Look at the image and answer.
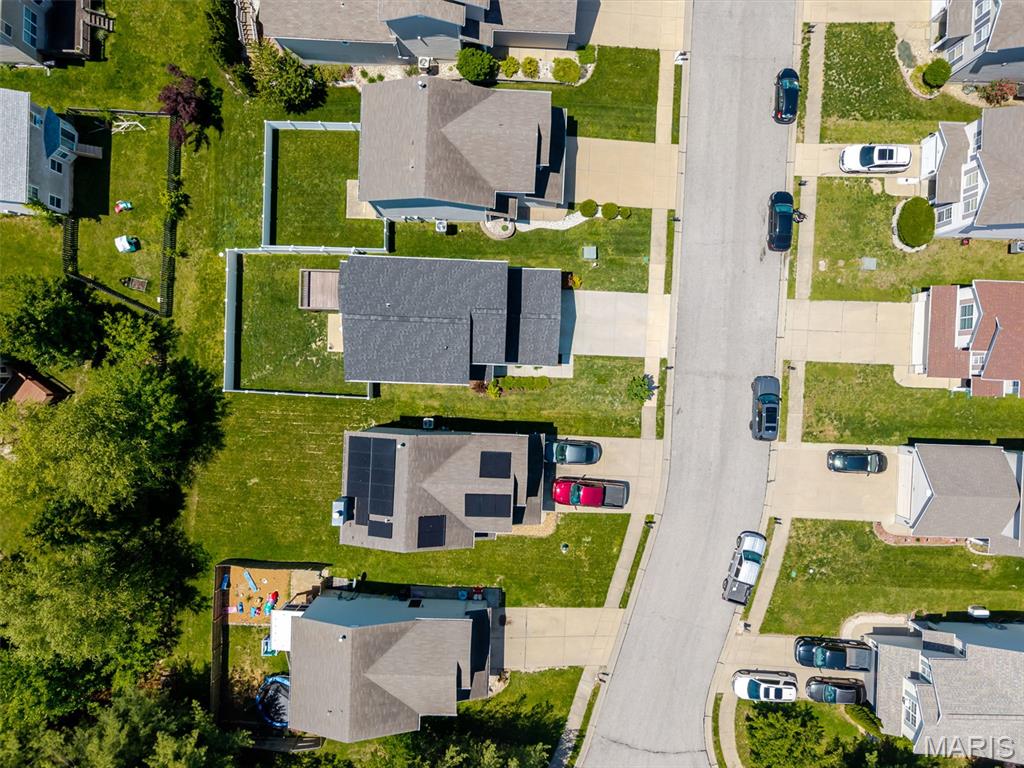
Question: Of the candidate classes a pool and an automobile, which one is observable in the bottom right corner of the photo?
automobile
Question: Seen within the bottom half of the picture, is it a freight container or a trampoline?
trampoline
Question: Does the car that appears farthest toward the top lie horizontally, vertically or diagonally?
vertically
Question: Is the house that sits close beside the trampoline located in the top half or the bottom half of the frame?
bottom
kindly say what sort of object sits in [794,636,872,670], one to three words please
truck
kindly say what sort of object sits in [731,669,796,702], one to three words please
car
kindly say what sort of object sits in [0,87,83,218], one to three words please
house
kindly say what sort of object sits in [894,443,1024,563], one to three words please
house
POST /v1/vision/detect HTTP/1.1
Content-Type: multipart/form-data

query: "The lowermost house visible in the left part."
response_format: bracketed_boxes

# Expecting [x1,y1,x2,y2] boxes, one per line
[288,599,492,745]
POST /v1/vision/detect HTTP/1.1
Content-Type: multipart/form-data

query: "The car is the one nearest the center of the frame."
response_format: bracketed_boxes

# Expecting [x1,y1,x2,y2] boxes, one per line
[545,438,602,466]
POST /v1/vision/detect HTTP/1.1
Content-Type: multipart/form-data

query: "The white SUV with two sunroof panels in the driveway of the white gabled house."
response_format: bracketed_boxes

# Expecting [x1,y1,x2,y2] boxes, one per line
[838,142,911,175]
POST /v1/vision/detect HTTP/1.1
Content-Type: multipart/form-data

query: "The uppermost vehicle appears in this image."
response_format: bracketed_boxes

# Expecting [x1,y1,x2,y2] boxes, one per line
[771,69,802,127]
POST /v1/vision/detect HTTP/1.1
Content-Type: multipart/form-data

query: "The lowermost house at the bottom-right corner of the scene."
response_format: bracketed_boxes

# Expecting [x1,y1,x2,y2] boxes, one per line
[863,619,1024,761]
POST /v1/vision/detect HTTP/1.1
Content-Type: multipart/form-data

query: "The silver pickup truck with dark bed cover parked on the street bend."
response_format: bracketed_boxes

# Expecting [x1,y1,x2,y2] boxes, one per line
[724,532,765,606]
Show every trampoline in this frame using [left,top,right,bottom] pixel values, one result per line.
[251,674,294,735]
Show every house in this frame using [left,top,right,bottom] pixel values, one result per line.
[918,105,1024,245]
[911,280,1024,399]
[288,599,492,745]
[0,87,83,218]
[335,255,561,389]
[0,0,45,78]
[863,619,1024,761]
[331,426,546,554]
[894,443,1024,563]
[928,0,1024,87]
[357,72,567,224]
[256,0,578,70]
